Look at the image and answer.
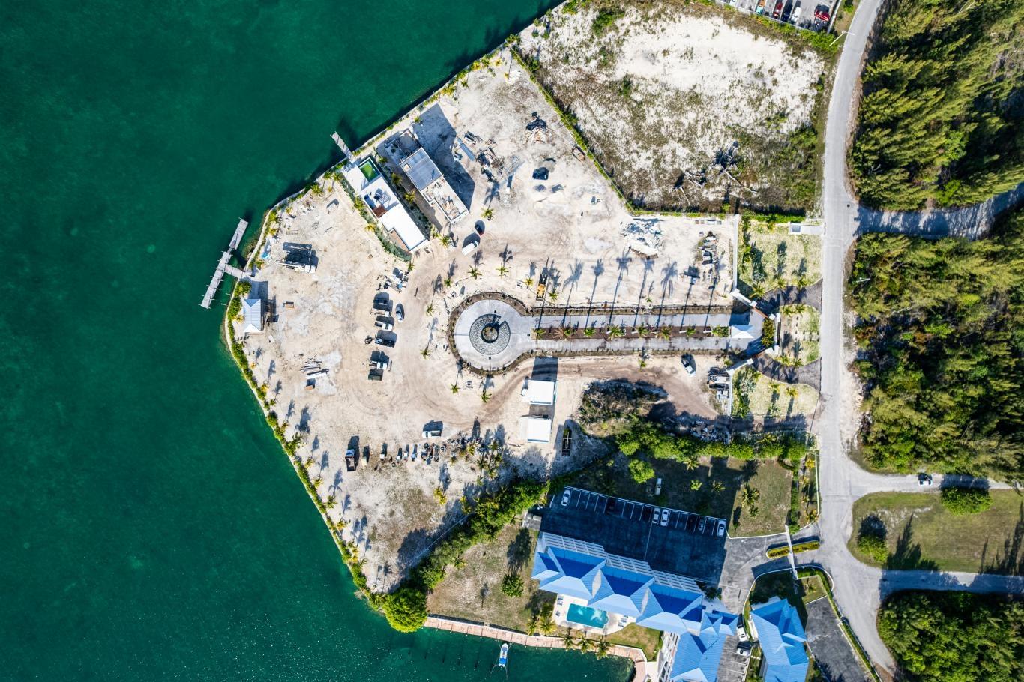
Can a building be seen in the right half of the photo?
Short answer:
Yes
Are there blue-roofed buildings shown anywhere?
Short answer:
Yes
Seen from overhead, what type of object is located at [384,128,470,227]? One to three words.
house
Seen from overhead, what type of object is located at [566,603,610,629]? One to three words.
swimming pool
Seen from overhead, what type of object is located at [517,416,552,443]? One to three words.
building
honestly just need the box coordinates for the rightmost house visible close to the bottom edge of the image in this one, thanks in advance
[746,593,809,682]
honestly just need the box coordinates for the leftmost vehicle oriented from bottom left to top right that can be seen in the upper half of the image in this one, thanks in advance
[460,238,480,255]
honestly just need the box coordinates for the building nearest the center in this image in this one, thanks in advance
[523,380,555,405]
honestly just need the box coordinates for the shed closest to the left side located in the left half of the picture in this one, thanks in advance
[243,298,265,332]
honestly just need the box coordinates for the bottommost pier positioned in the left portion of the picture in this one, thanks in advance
[198,218,251,309]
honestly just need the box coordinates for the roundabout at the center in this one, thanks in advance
[469,313,510,355]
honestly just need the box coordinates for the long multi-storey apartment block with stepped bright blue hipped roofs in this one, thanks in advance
[531,523,739,682]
